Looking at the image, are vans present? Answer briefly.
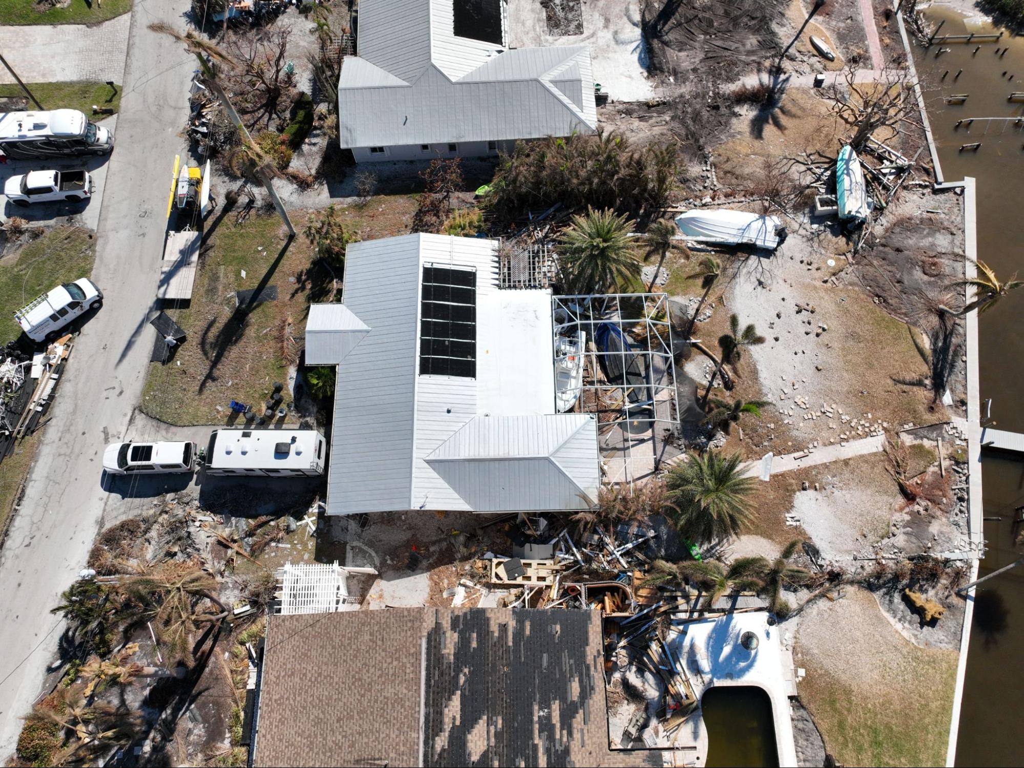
Yes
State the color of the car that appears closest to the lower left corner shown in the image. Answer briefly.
white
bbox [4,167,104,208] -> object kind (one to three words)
truck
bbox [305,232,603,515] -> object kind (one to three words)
house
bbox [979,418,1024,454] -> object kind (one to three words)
pier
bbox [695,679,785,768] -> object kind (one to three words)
swimming pool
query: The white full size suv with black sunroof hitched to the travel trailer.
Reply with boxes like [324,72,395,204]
[101,433,209,475]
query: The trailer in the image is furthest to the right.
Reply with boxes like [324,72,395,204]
[209,429,330,479]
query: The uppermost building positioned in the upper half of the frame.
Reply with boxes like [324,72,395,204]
[337,0,599,164]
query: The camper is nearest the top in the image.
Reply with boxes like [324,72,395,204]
[0,107,119,165]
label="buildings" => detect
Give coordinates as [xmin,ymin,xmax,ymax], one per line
[250,610,702,768]
[337,0,599,164]
[305,232,603,515]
